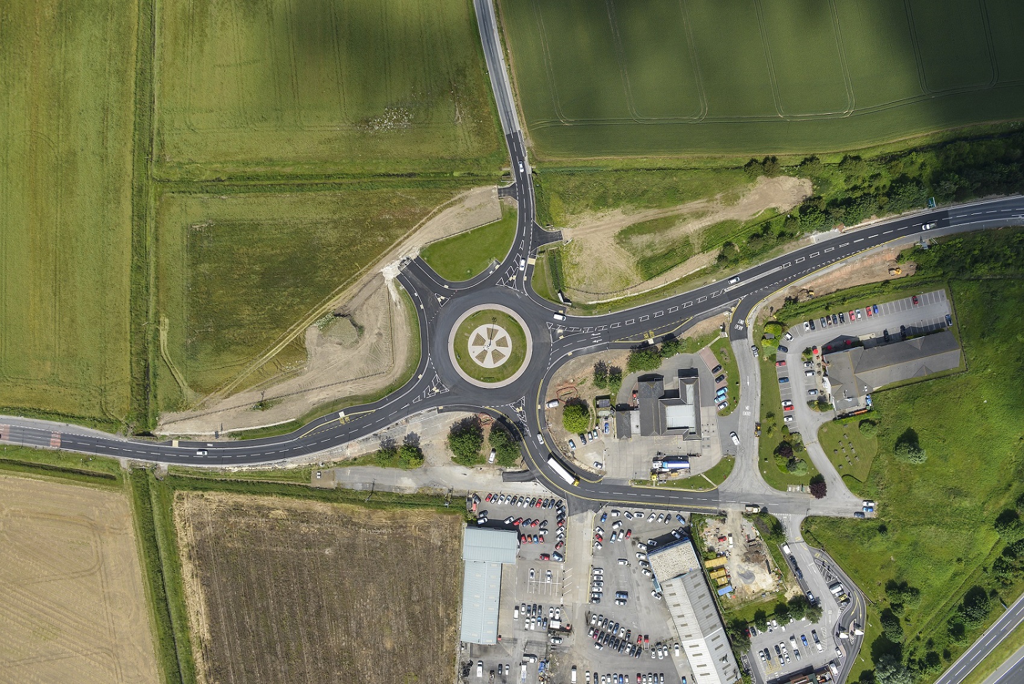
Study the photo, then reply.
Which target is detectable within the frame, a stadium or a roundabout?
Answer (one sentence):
Of the two, only a roundabout appears.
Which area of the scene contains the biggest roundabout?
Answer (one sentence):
The biggest roundabout is in the center part of the image.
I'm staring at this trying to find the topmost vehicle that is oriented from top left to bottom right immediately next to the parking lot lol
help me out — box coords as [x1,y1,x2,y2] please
[546,456,580,487]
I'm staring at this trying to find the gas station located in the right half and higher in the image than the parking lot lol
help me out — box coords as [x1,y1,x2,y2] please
[616,377,702,441]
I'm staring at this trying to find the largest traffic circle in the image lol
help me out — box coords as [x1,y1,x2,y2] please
[432,289,549,403]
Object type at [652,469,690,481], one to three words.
vehicle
